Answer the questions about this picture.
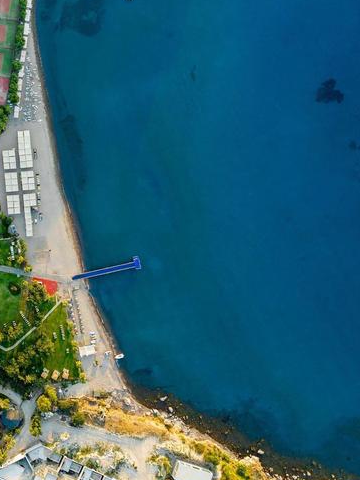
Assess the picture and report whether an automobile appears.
No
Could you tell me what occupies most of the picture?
water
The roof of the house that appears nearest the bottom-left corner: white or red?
white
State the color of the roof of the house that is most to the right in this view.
white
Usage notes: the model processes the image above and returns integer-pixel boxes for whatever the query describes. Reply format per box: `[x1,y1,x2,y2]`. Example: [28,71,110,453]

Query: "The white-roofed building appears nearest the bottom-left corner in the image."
[0,456,25,480]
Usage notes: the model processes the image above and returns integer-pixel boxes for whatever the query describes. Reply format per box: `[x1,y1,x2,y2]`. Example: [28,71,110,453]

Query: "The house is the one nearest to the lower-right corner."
[171,458,212,480]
